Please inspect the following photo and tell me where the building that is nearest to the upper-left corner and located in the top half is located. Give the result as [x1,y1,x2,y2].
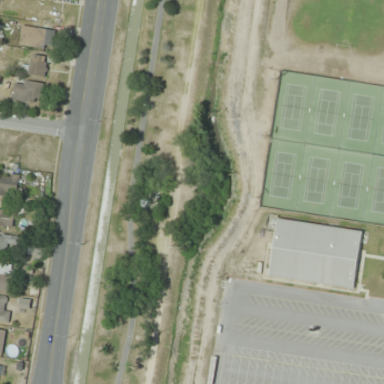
[19,24,55,48]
